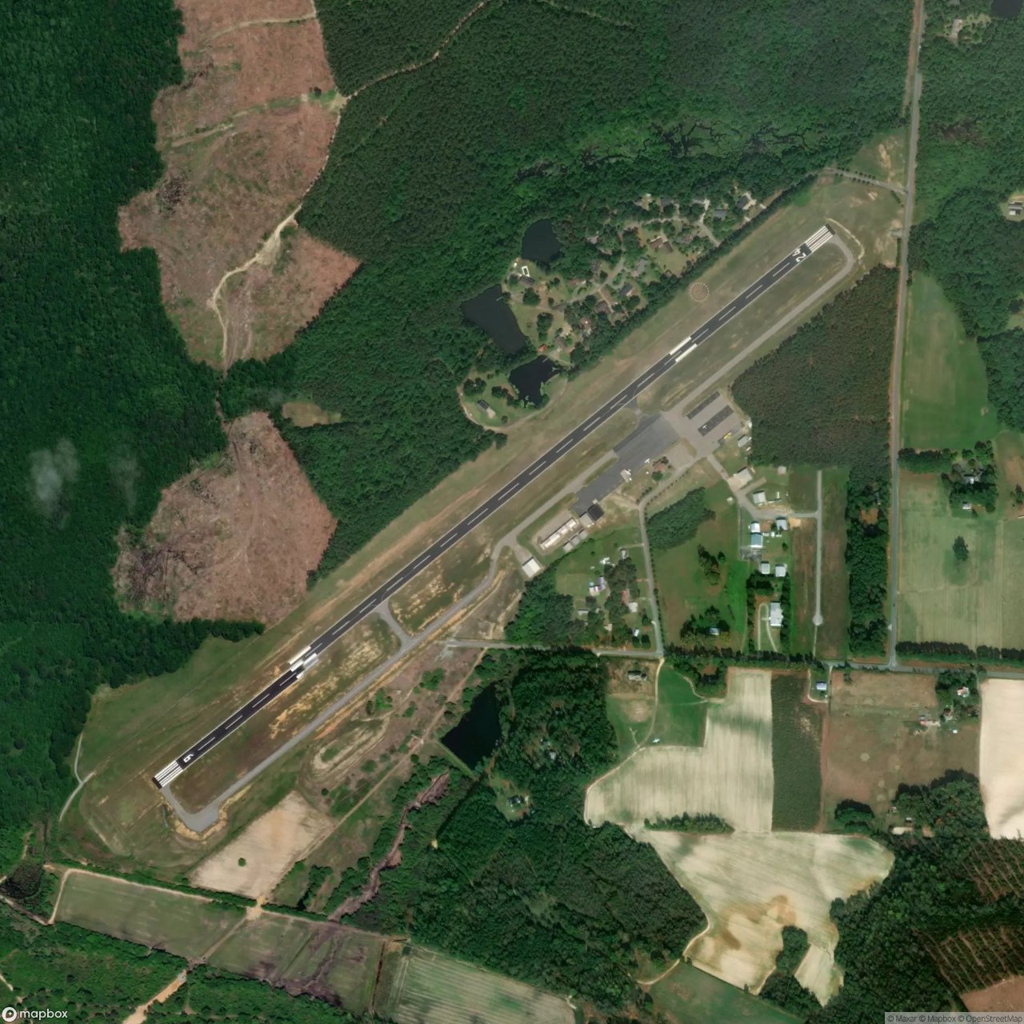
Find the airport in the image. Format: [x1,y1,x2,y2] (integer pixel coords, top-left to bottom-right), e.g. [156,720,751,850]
[153,224,854,831]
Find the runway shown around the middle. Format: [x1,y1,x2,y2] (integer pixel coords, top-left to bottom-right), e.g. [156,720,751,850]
[153,224,835,788]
